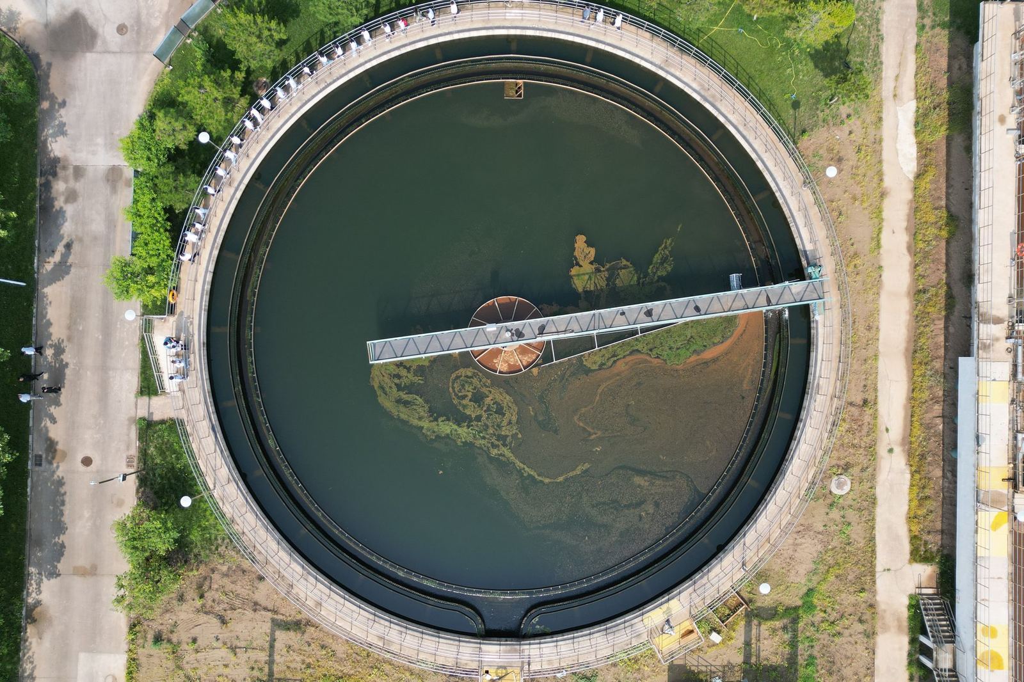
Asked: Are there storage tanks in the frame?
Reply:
Yes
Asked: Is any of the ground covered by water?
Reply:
Yes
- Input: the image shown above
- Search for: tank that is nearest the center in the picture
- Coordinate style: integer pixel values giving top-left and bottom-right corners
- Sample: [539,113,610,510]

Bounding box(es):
[178,6,840,667]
